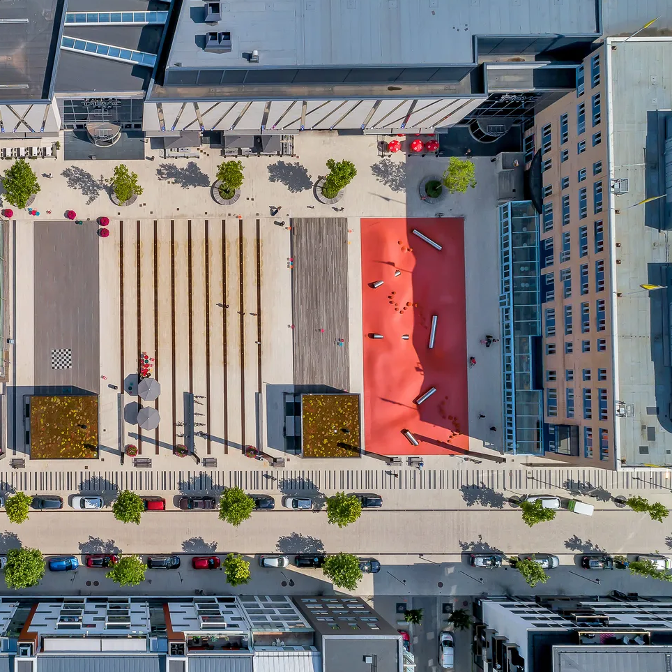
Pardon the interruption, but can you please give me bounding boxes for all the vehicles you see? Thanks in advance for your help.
[147,555,180,571]
[136,497,165,511]
[73,496,105,511]
[347,494,382,509]
[397,627,411,656]
[525,554,557,570]
[180,496,216,512]
[564,499,599,516]
[351,559,380,574]
[438,630,456,668]
[292,554,324,570]
[580,555,612,571]
[0,556,7,570]
[85,555,118,569]
[31,496,63,511]
[244,497,275,511]
[284,497,314,511]
[636,555,671,570]
[469,554,502,570]
[48,556,79,572]
[524,496,561,510]
[191,556,220,571]
[258,554,289,570]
